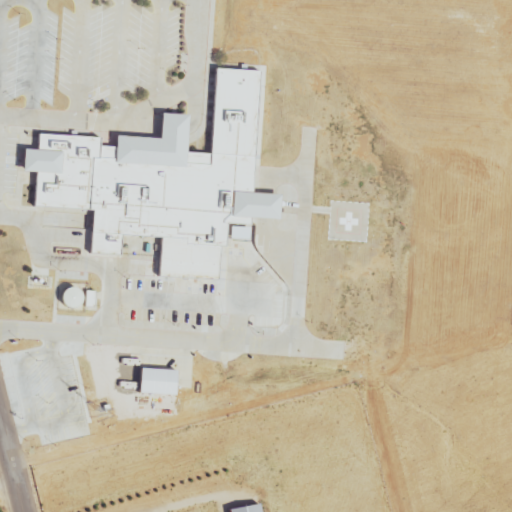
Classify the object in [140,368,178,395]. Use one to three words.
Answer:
building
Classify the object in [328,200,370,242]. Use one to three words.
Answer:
helipad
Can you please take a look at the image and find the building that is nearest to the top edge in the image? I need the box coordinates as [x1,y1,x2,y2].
[24,64,282,278]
